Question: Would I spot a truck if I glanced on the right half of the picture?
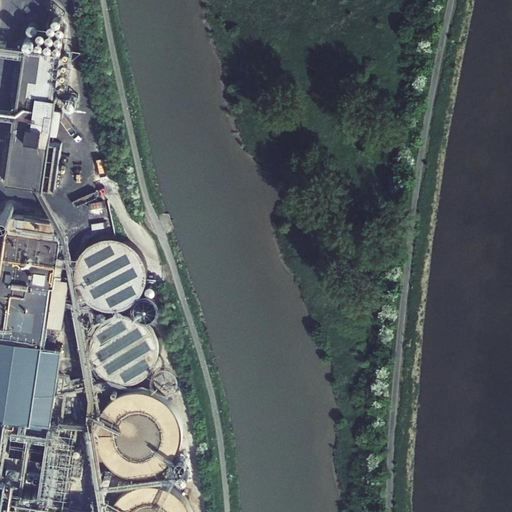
No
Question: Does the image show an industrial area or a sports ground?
industrial area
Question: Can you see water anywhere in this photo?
Yes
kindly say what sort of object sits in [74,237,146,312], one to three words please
storage tank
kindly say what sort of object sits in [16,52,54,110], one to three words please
building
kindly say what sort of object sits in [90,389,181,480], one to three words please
storage tank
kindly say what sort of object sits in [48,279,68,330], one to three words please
shed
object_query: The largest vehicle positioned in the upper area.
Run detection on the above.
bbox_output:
[70,186,107,208]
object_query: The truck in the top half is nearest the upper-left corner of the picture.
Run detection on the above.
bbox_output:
[60,116,81,142]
